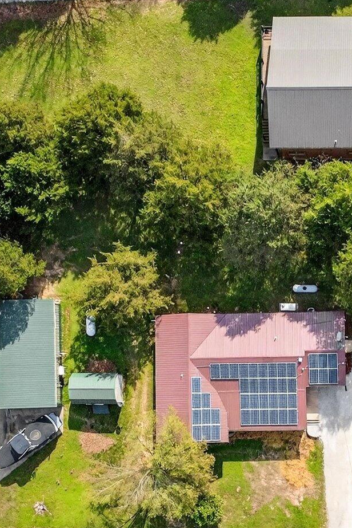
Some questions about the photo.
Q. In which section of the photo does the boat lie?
bottom left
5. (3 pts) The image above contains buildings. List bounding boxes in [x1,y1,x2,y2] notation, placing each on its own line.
[155,312,345,442]
[267,16,352,159]
[0,299,66,409]
[67,372,125,413]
